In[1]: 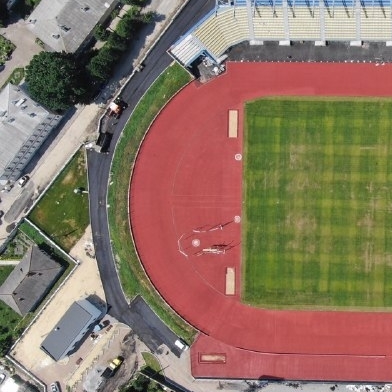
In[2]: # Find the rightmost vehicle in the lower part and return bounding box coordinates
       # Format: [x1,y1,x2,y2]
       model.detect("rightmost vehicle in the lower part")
[171,337,188,350]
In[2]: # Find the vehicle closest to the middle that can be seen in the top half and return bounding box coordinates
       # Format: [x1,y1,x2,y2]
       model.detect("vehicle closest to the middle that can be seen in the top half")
[94,127,113,153]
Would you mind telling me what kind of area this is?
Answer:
sports ground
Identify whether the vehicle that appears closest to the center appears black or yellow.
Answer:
black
